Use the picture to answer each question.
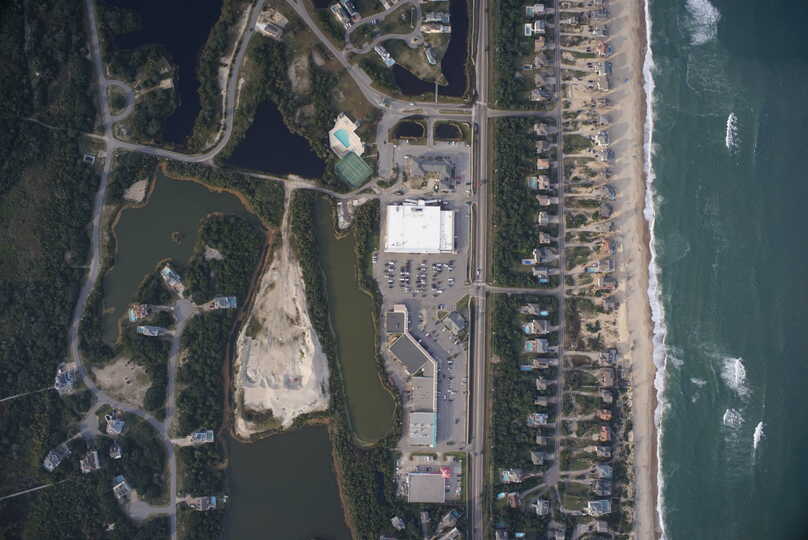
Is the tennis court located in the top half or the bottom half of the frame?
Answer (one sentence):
Seen from above, the tennis court lies in the top half of the view.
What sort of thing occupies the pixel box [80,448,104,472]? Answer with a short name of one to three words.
house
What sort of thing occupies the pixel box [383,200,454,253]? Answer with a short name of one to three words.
building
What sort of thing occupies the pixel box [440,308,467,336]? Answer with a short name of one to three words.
building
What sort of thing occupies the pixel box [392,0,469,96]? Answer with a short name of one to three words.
pond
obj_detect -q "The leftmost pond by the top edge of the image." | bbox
[107,0,223,146]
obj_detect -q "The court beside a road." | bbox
[335,152,372,187]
